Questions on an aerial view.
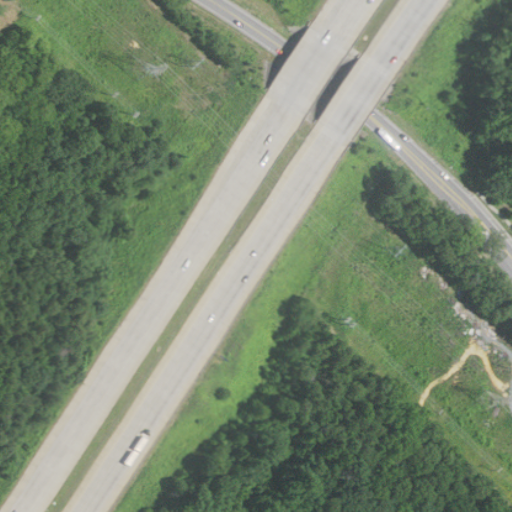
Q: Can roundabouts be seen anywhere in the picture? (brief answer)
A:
No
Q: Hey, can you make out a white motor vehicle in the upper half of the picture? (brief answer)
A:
Yes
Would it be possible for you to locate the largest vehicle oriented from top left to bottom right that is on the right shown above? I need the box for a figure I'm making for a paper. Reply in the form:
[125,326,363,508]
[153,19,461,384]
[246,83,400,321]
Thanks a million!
[374,126,400,151]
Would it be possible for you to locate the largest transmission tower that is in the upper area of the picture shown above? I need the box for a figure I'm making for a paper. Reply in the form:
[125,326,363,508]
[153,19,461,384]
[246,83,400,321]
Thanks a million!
[144,62,169,80]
